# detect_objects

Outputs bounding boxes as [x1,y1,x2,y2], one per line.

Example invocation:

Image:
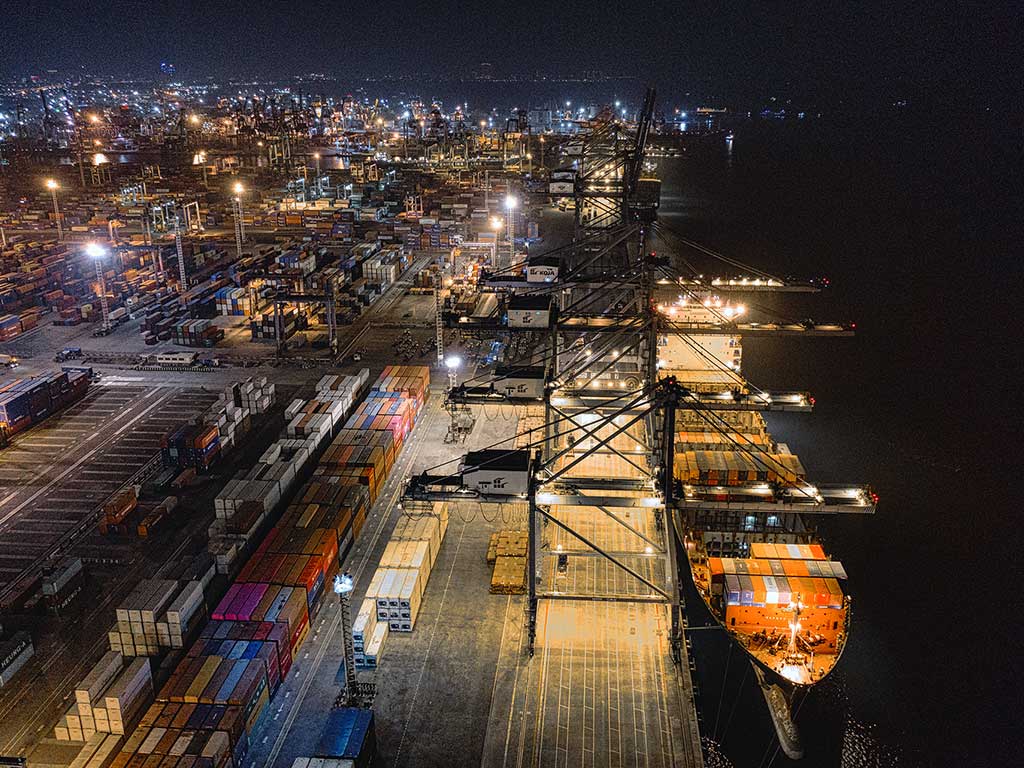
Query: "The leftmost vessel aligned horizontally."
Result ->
[71,134,136,150]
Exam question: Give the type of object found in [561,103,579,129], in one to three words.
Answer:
building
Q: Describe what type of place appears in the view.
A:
port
